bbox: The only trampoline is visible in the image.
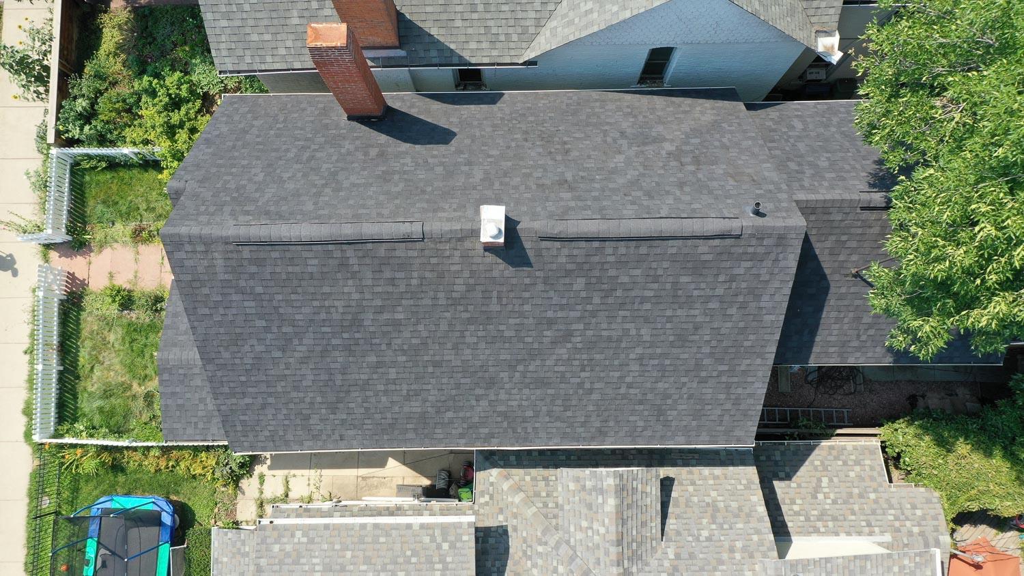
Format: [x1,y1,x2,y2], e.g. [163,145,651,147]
[47,491,179,576]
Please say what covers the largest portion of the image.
buildings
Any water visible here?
No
